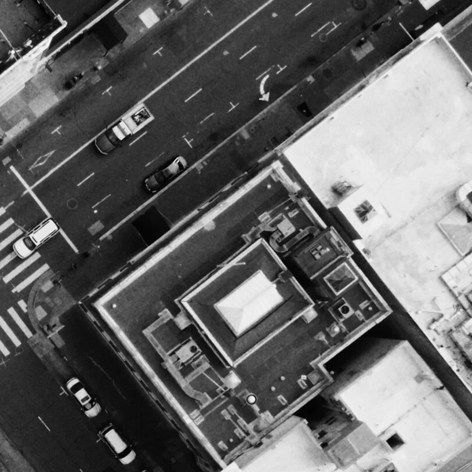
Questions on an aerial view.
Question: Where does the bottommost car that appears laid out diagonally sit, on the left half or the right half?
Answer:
left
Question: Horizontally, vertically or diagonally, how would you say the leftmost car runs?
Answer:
diagonally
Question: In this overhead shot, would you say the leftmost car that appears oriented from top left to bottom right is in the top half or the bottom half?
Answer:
bottom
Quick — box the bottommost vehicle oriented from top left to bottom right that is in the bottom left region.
[97,422,135,465]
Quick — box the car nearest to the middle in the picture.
[141,153,188,192]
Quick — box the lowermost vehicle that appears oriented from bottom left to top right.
[12,215,63,260]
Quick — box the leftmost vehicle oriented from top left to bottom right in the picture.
[65,376,100,417]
